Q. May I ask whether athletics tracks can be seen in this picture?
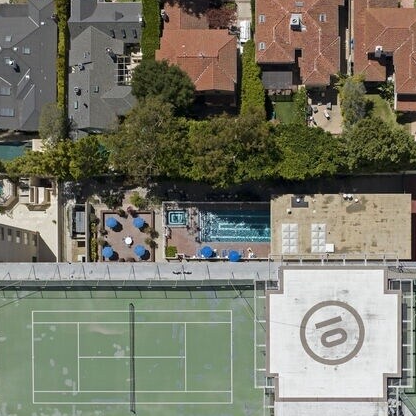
No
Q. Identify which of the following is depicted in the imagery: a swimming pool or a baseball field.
swimming pool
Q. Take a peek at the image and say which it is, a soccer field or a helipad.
helipad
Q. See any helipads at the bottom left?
No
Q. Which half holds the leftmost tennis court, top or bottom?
bottom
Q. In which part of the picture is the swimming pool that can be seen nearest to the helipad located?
center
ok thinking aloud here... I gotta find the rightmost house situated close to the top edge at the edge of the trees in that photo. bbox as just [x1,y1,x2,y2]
[353,0,416,101]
